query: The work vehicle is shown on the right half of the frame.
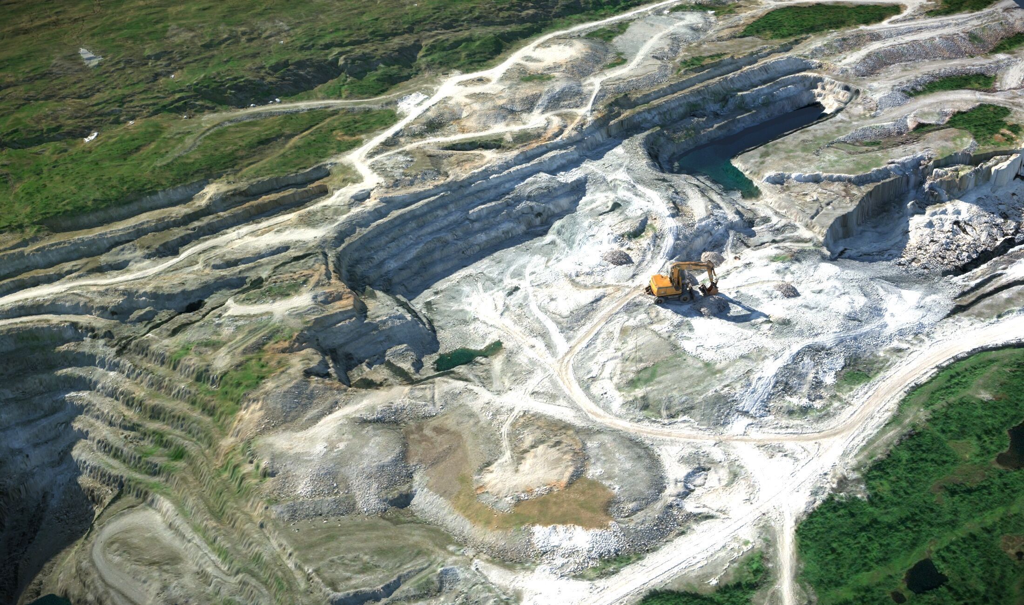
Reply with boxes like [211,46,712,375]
[639,259,722,307]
